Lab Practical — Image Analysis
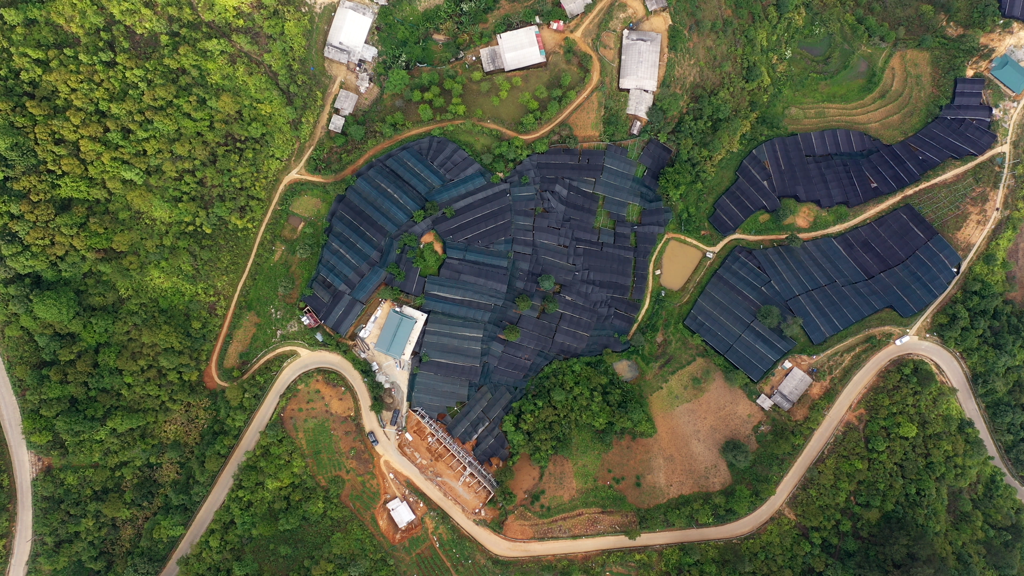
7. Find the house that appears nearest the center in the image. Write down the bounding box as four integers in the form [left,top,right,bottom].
[374,309,416,360]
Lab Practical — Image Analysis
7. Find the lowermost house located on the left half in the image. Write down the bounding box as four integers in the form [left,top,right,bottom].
[386,497,415,528]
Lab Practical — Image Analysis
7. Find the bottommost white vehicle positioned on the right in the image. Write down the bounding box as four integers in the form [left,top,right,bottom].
[896,334,913,346]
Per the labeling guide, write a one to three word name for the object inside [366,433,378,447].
vehicle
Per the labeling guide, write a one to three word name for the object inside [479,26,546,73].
house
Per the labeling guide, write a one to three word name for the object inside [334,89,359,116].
barn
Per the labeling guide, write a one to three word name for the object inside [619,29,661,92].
house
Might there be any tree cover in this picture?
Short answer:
Yes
